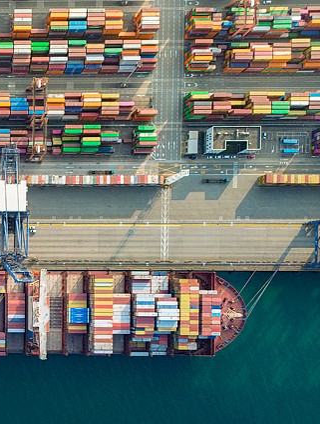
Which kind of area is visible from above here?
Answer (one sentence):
This looks like a port.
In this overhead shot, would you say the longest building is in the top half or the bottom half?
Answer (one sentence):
The top half of the photo is where the longest building is.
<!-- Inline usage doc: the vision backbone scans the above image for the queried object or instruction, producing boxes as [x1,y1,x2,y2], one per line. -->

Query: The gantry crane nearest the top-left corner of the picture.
[23,74,47,123]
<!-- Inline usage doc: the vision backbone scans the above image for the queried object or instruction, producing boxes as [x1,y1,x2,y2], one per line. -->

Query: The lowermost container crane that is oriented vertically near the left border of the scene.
[0,139,44,281]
